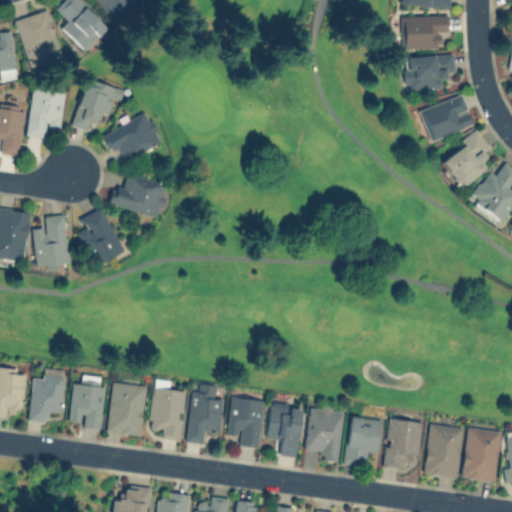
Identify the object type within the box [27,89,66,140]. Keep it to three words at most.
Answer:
house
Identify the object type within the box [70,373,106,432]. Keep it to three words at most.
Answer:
house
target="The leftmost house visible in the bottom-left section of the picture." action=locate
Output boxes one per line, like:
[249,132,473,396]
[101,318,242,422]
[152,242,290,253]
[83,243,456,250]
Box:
[0,371,28,423]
